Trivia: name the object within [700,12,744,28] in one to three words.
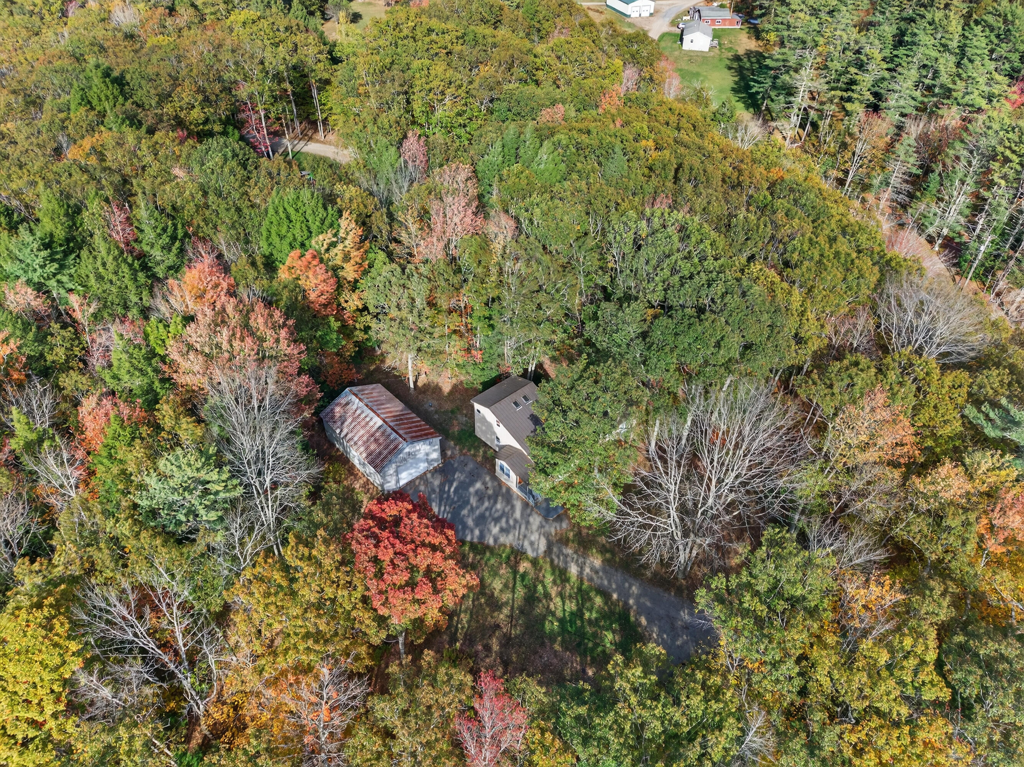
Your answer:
barn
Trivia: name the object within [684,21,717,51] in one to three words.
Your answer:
house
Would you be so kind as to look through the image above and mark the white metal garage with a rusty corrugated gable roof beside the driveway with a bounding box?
[320,384,441,492]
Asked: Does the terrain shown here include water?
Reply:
No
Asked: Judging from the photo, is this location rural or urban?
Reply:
rural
